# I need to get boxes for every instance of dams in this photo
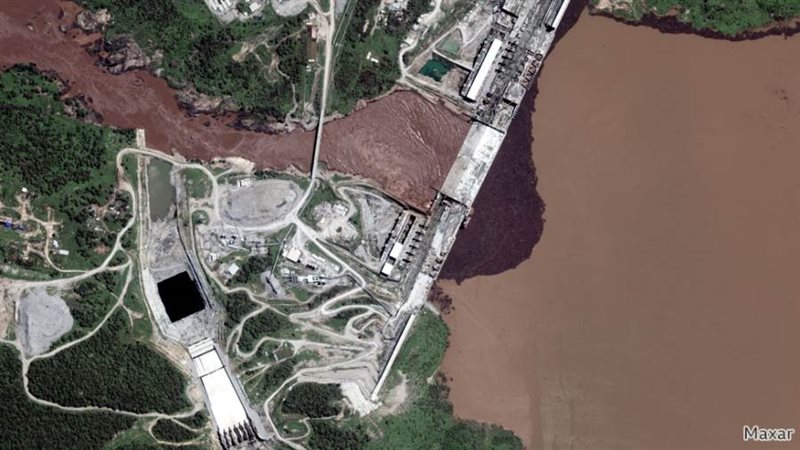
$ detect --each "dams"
[371,0,571,401]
